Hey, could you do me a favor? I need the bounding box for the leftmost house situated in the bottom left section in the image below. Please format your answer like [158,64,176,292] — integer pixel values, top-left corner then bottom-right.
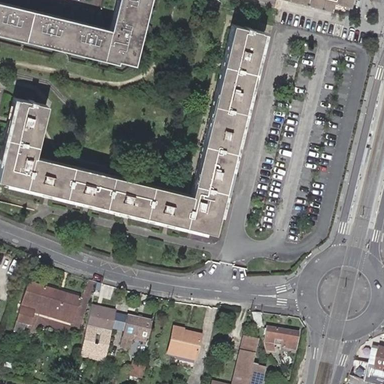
[15,280,96,332]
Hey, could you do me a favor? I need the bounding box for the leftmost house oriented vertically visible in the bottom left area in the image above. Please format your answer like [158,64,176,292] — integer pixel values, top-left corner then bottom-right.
[80,304,116,360]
